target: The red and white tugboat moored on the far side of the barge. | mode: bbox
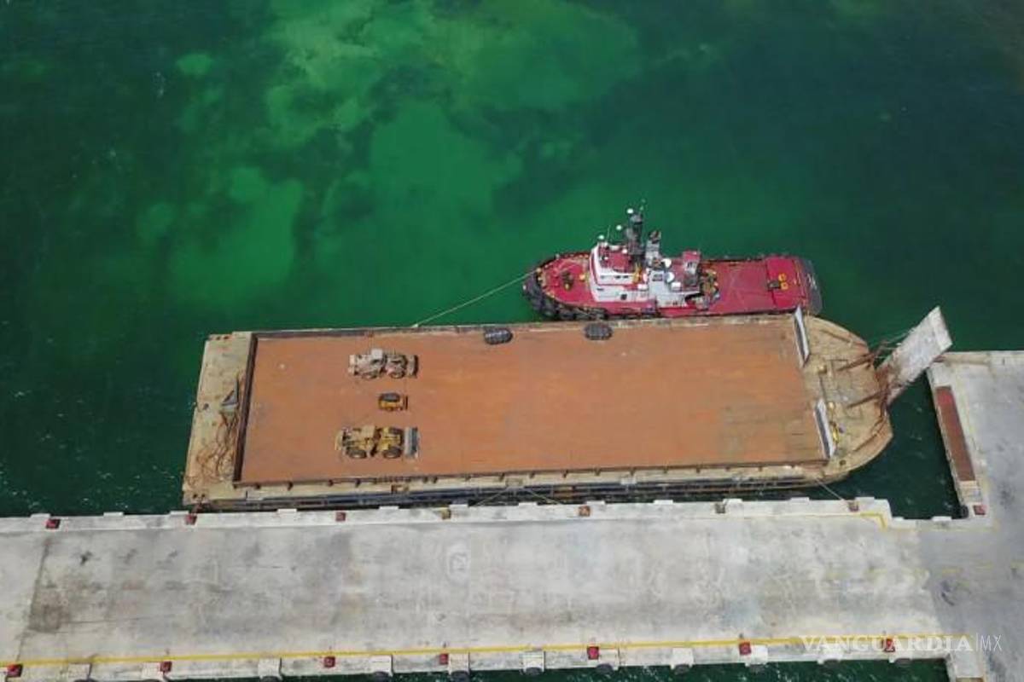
[515,206,822,322]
